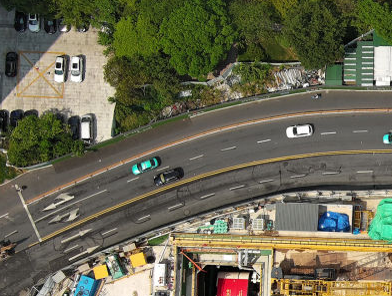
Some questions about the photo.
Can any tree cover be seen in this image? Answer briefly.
Yes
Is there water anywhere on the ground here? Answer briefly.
No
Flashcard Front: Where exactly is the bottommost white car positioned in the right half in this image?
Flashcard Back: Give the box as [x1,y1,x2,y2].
[284,123,313,137]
